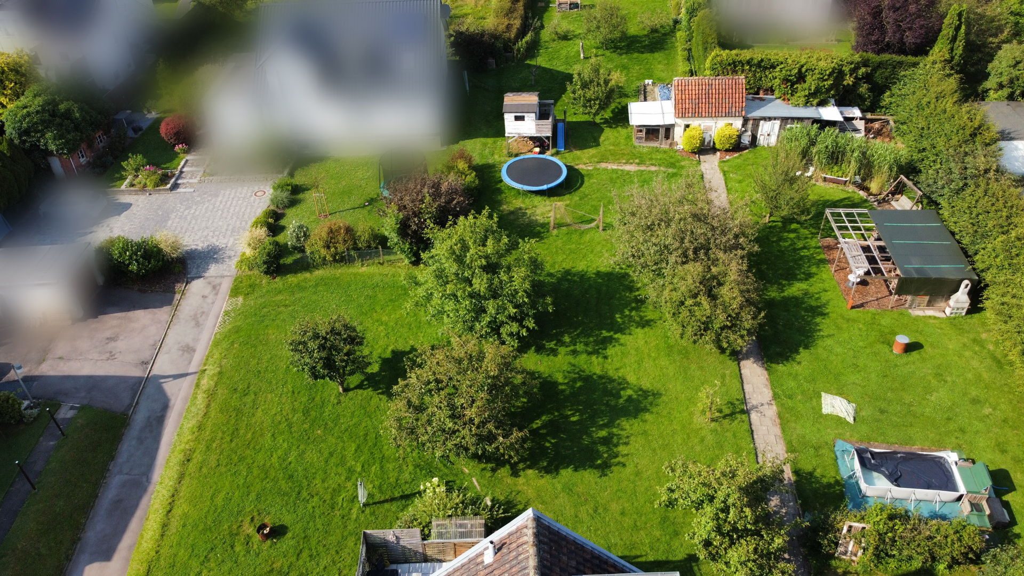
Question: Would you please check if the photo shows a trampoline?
Yes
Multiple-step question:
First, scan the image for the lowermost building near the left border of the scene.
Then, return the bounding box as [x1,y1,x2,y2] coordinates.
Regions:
[0,243,117,326]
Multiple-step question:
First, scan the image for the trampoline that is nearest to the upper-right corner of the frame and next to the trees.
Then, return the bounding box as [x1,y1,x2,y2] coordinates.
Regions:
[502,155,567,202]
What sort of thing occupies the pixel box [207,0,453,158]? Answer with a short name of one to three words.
house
